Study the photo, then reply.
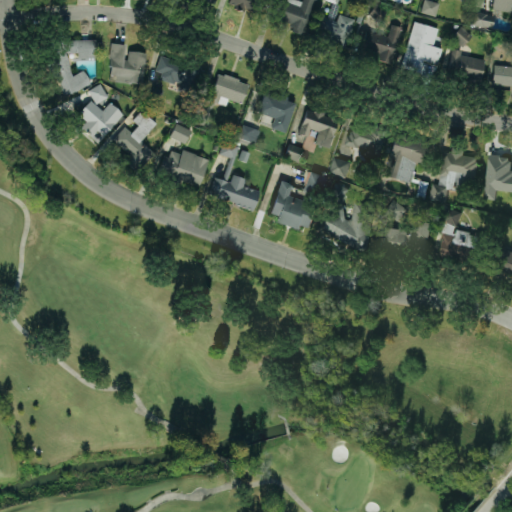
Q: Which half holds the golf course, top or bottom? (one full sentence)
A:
You can find the golf course in the bottom half.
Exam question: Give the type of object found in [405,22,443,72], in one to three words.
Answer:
house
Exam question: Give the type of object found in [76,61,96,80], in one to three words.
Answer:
swimming pool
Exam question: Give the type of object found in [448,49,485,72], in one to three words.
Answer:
house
